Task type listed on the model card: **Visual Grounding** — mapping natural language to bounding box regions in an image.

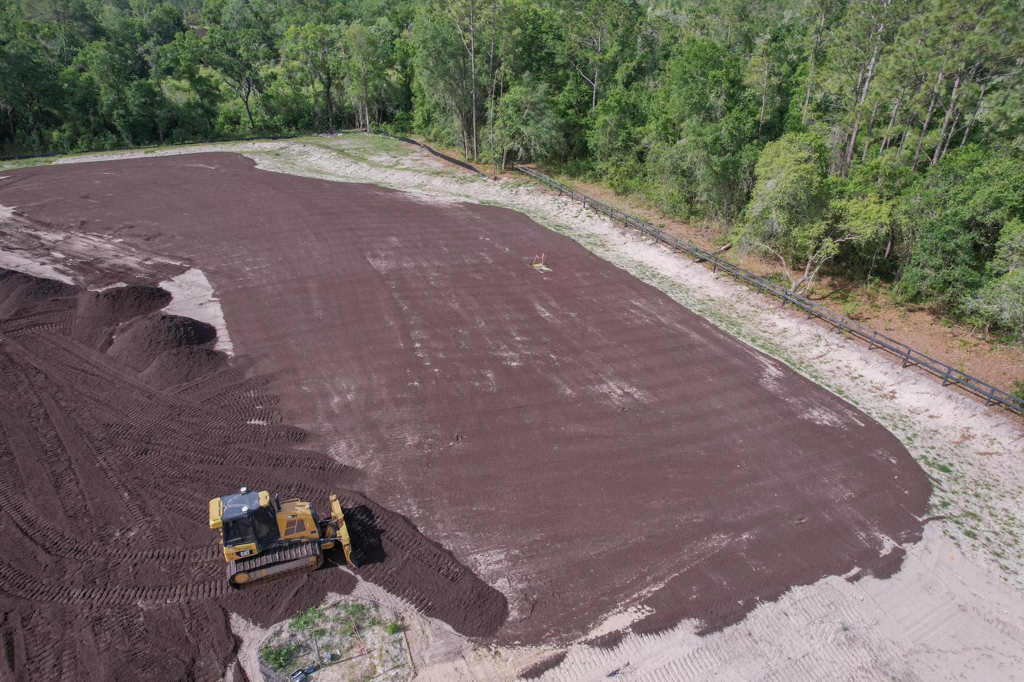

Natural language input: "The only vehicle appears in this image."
[212,491,365,591]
